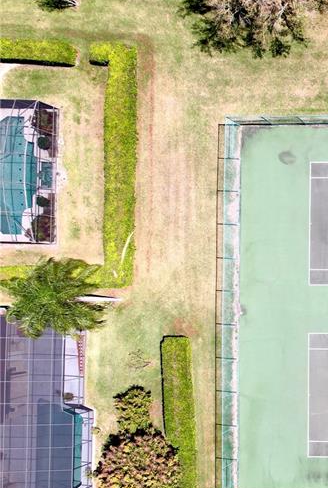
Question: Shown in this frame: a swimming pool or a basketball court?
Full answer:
This aerial view contains a swimming pool.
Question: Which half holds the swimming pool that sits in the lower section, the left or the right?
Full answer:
It is on the left.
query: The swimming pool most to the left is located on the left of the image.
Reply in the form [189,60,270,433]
[0,117,34,234]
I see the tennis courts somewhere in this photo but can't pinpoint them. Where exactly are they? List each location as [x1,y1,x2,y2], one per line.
[233,124,328,312]
[233,312,328,488]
